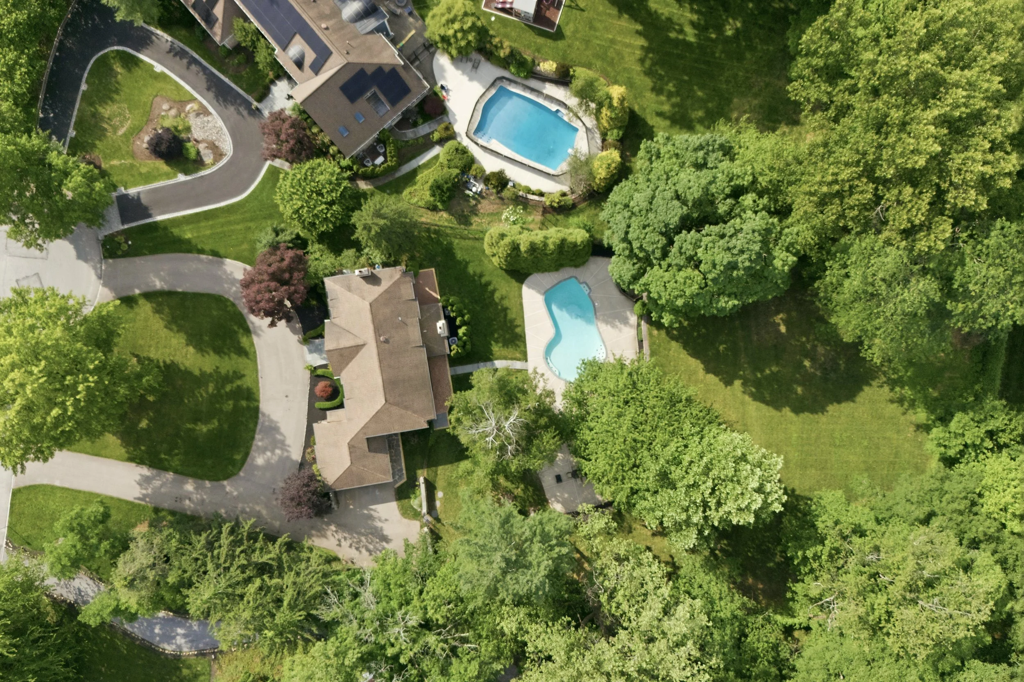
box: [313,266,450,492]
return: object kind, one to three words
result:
house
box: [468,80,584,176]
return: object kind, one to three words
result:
swimming pool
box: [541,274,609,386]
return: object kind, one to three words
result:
swimming pool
